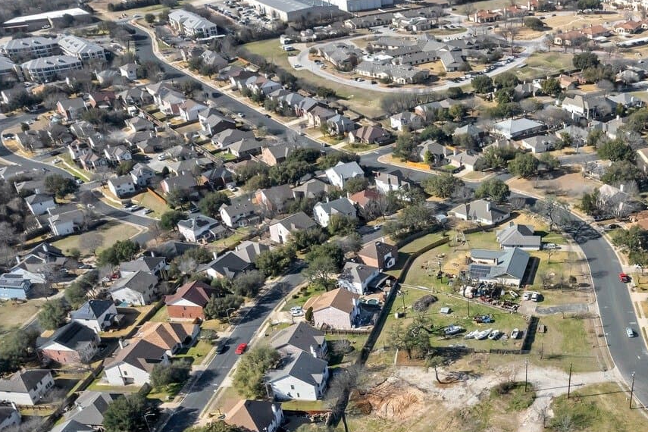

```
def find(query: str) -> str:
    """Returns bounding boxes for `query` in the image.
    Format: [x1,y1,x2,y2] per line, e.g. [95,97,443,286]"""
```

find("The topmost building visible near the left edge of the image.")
[4,8,94,33]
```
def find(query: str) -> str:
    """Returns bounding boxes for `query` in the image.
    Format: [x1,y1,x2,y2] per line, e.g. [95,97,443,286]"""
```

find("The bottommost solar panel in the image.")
[60,325,88,346]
